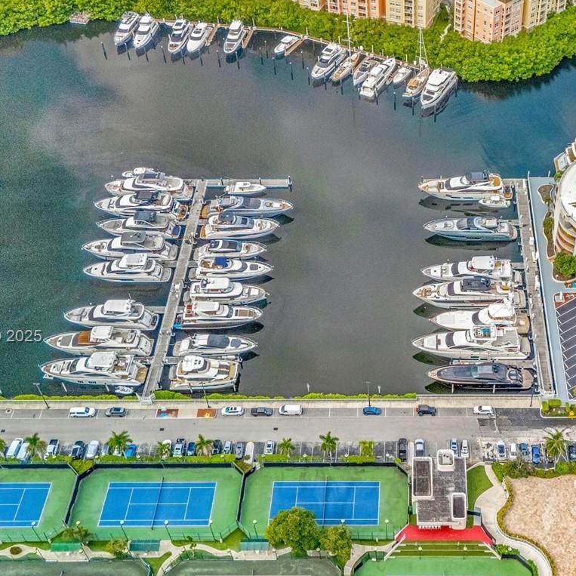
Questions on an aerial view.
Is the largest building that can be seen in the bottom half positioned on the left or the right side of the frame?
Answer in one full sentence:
The largest building that can be seen in the bottom half sits on the right side.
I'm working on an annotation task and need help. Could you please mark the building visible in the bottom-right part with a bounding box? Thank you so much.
[411,450,469,535]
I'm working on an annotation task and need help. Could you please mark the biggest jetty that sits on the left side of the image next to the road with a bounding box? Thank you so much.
[135,176,292,390]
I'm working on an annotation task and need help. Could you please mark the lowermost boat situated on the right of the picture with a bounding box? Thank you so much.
[427,365,534,395]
